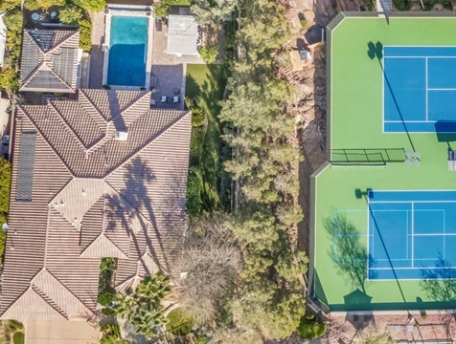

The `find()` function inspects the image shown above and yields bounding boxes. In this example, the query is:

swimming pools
[102,1,153,91]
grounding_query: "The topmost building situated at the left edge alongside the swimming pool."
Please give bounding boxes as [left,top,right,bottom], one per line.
[18,28,86,93]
